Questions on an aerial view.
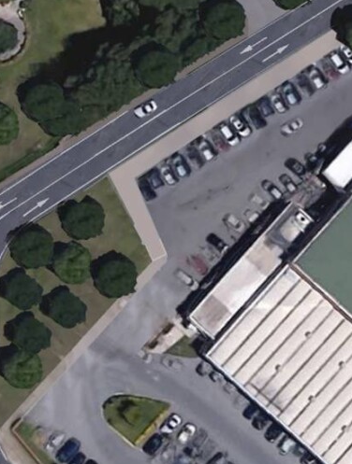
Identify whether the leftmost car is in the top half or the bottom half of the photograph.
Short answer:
bottom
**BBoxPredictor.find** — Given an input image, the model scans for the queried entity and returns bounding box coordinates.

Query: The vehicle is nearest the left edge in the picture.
[44,429,65,452]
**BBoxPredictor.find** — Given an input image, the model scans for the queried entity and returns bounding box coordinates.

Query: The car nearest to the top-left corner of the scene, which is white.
[133,98,158,118]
